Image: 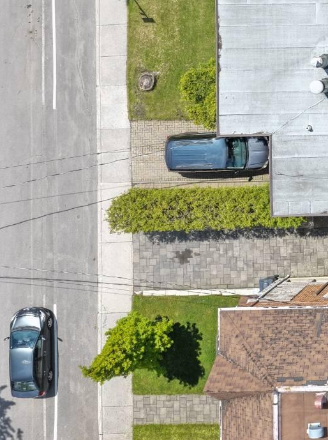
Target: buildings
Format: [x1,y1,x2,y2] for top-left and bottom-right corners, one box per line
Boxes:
[215,0,328,216]
[202,272,328,440]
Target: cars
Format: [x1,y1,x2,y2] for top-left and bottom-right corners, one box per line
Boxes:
[162,127,271,174]
[4,303,59,399]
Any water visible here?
No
